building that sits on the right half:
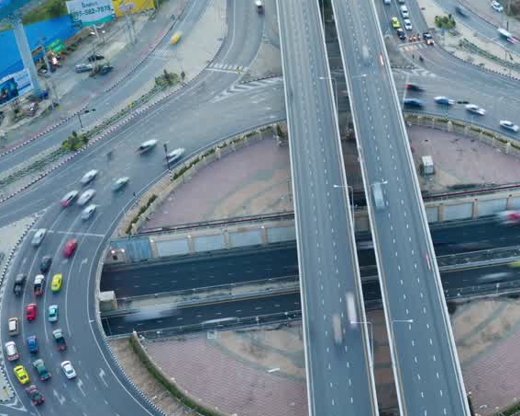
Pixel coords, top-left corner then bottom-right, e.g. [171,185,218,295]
[419,152,435,174]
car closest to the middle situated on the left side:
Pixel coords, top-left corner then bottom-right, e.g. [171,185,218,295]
[164,149,186,163]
